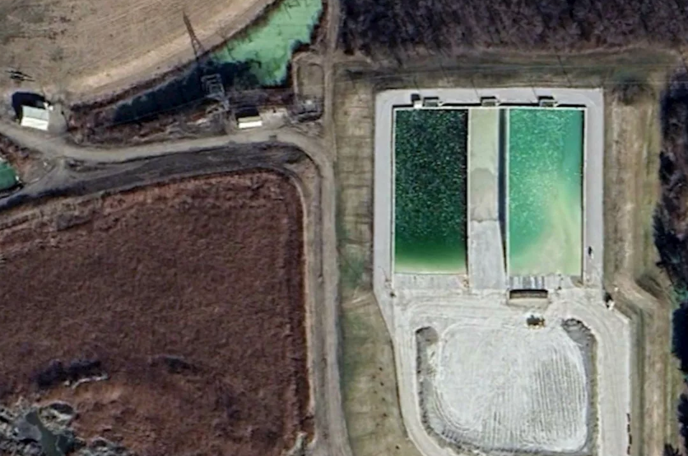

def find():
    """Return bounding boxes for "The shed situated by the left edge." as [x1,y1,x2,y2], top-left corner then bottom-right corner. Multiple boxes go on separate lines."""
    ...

[19,101,50,129]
